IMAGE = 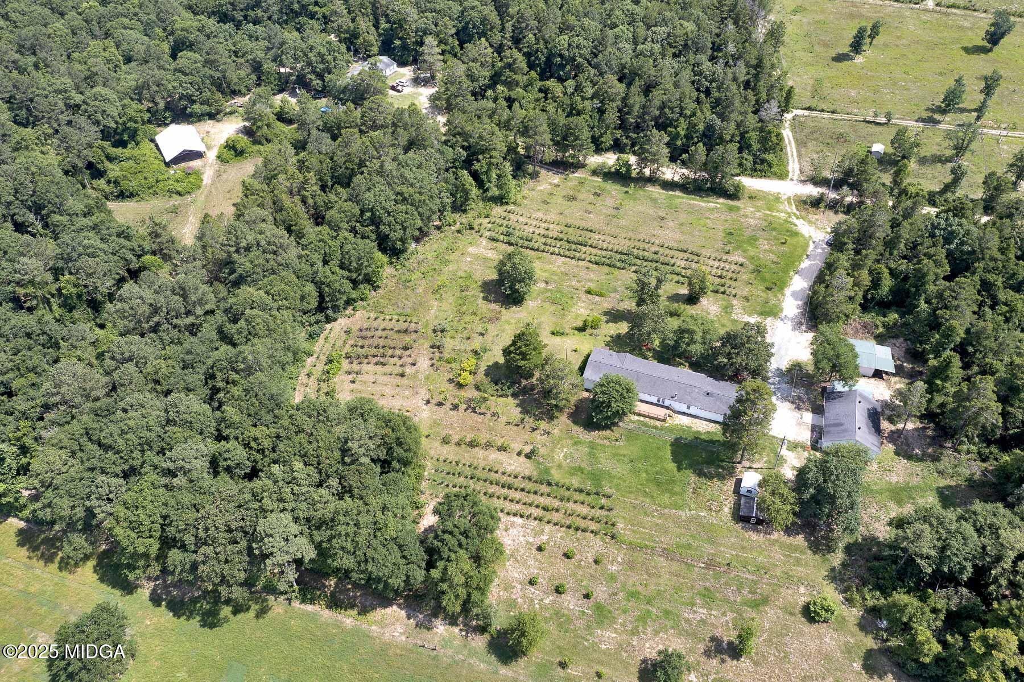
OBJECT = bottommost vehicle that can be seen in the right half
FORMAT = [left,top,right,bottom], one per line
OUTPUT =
[825,230,841,247]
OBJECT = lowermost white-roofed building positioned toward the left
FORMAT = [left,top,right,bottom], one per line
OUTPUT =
[152,125,209,170]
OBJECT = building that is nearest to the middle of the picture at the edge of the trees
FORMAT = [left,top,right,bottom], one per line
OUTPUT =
[583,350,738,425]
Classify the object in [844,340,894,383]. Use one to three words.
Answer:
shed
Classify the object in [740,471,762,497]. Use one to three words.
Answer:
shed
